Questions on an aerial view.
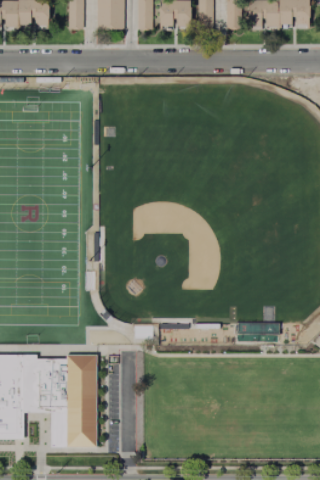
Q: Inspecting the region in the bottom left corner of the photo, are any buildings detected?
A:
Yes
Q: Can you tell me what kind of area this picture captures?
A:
sports ground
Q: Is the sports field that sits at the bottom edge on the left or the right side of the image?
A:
right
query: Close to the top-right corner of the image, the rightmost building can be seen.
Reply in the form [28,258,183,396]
[242,0,310,30]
